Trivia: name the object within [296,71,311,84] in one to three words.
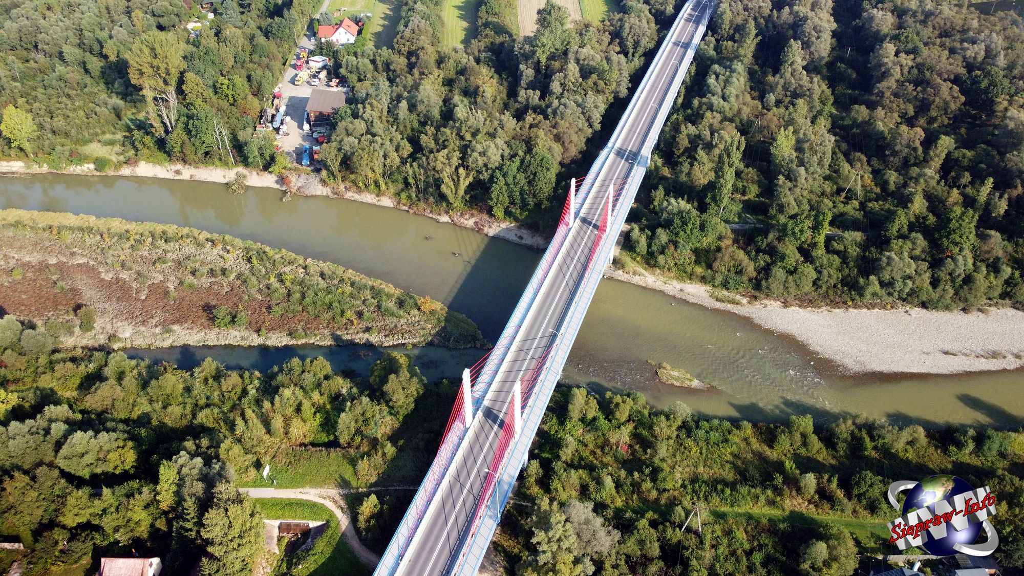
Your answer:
vehicle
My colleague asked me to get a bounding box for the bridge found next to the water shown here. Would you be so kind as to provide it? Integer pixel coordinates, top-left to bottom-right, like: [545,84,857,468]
[369,0,718,576]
